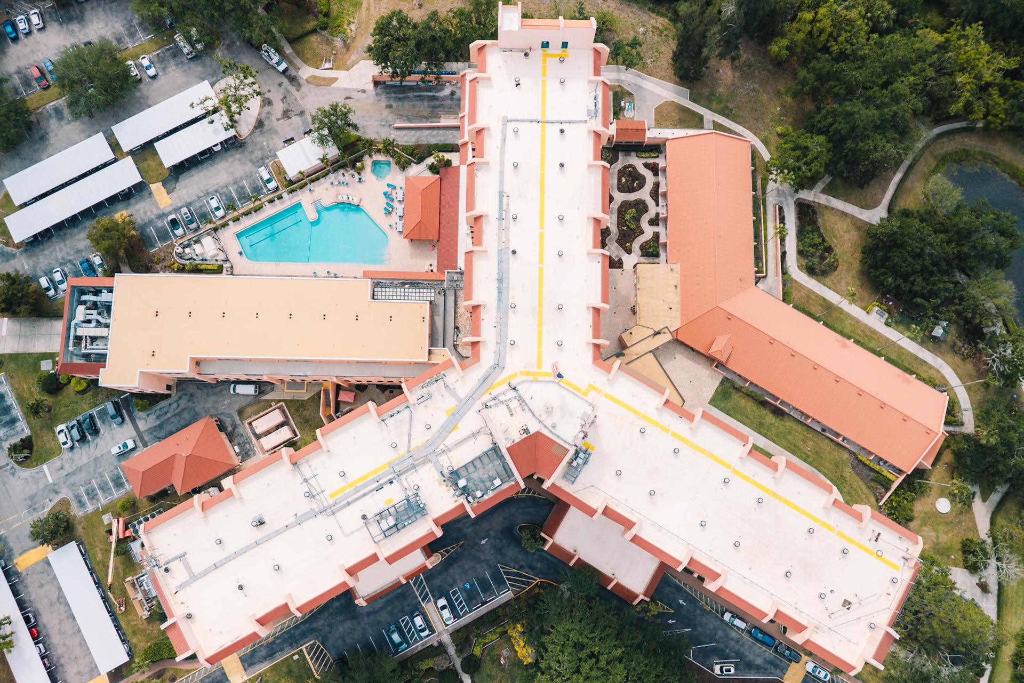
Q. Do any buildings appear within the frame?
Yes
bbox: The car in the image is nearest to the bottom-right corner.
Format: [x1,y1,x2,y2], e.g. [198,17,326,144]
[802,658,832,683]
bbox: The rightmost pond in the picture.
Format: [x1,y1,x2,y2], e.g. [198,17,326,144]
[940,164,1024,329]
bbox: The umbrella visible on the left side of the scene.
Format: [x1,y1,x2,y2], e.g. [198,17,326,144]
[338,391,355,403]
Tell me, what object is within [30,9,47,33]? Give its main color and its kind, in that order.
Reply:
white car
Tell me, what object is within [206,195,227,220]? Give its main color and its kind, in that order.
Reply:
white car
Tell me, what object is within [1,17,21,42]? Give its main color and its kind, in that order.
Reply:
blue car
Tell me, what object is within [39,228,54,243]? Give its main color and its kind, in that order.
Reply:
black car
